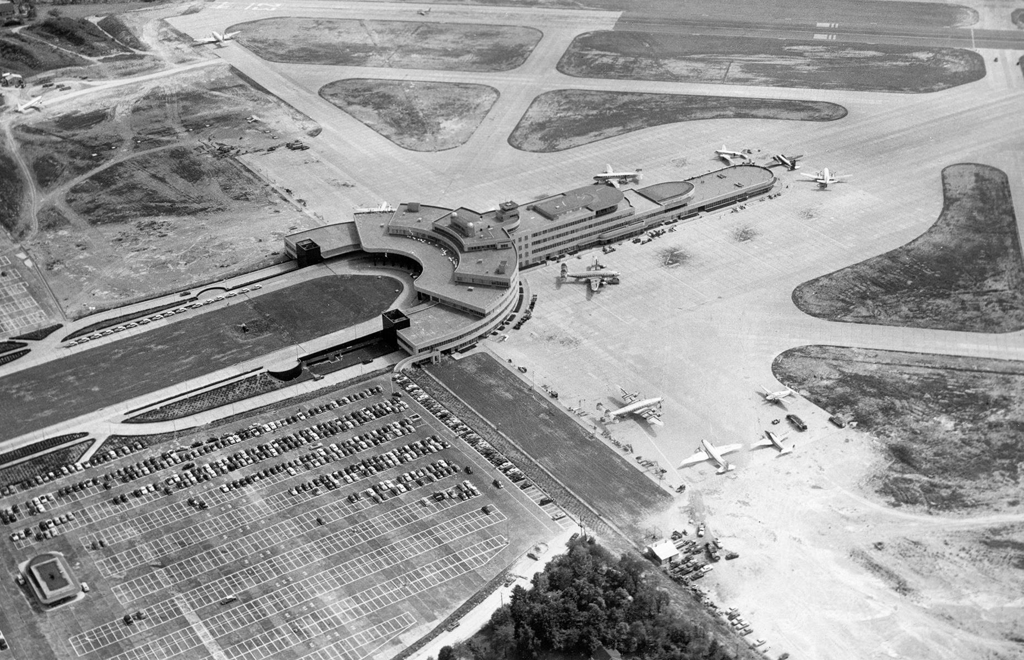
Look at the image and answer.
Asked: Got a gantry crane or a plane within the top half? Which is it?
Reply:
plane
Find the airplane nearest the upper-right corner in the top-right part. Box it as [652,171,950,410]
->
[798,165,850,181]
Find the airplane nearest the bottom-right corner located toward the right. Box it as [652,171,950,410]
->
[746,429,798,456]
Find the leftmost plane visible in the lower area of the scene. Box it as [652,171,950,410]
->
[604,382,674,425]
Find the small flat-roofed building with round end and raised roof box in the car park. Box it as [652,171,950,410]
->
[18,550,86,617]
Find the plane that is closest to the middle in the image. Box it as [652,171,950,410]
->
[563,255,623,289]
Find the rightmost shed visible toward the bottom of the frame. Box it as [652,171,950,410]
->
[647,539,680,567]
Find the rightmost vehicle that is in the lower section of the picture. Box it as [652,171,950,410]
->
[830,413,846,428]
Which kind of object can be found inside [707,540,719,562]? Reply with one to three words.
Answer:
vehicle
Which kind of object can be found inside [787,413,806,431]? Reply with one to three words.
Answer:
vehicle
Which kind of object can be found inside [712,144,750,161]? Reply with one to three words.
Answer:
airplane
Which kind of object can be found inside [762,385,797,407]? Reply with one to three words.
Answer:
airplane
